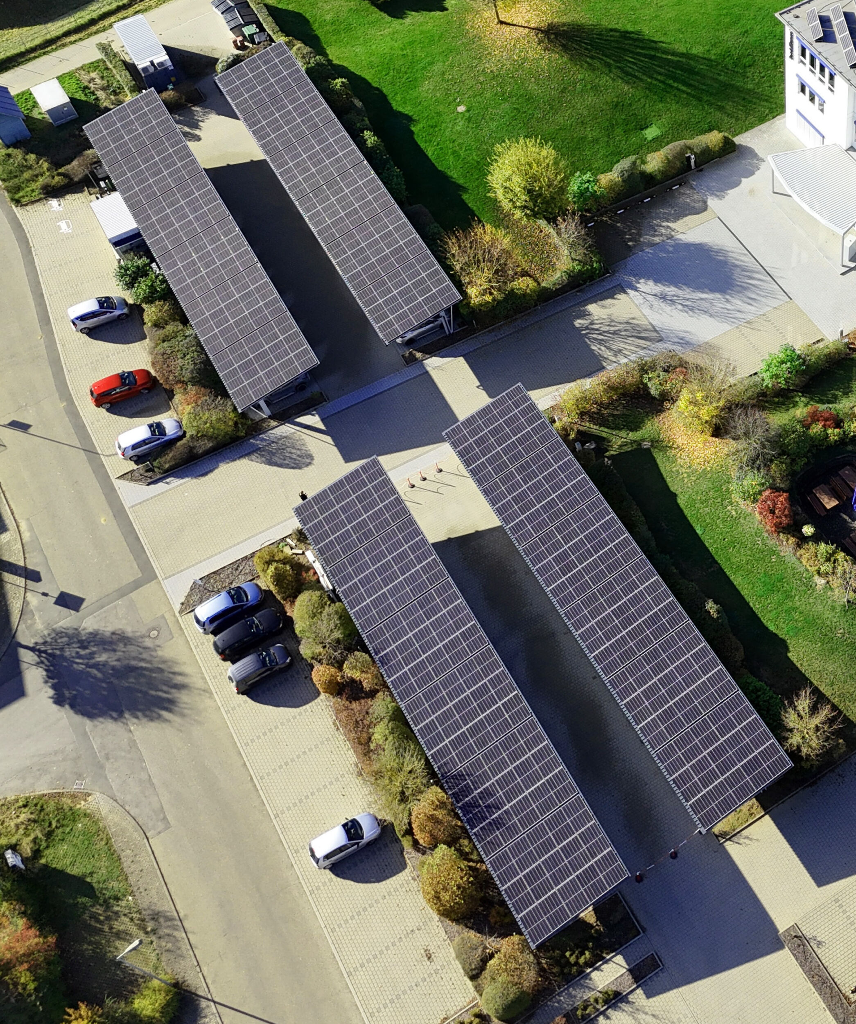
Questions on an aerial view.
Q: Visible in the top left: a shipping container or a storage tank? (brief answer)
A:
shipping container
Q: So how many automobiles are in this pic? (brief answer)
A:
nine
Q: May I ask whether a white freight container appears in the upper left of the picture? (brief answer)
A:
Yes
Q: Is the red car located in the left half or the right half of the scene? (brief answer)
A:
left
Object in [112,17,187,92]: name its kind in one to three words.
shipping container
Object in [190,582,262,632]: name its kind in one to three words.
car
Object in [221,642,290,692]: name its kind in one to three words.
car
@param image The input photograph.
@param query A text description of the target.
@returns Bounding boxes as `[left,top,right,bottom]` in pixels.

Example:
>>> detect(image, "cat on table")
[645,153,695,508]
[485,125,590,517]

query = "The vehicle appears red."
[87,367,155,408]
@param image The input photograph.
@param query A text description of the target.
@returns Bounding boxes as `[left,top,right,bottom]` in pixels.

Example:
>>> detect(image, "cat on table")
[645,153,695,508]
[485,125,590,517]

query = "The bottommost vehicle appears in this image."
[302,813,382,870]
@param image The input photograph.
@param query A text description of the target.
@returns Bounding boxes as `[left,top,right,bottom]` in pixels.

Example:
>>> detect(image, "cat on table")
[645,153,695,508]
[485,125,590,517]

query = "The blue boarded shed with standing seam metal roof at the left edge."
[0,83,31,145]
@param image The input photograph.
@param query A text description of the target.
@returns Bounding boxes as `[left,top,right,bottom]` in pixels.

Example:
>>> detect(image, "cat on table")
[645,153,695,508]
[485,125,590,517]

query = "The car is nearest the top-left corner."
[65,294,130,334]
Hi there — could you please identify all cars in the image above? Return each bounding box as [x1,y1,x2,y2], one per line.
[221,642,290,692]
[190,582,262,632]
[258,374,313,406]
[114,418,182,460]
[65,294,130,334]
[302,813,382,870]
[208,608,281,658]
[87,367,155,408]
[398,312,454,345]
